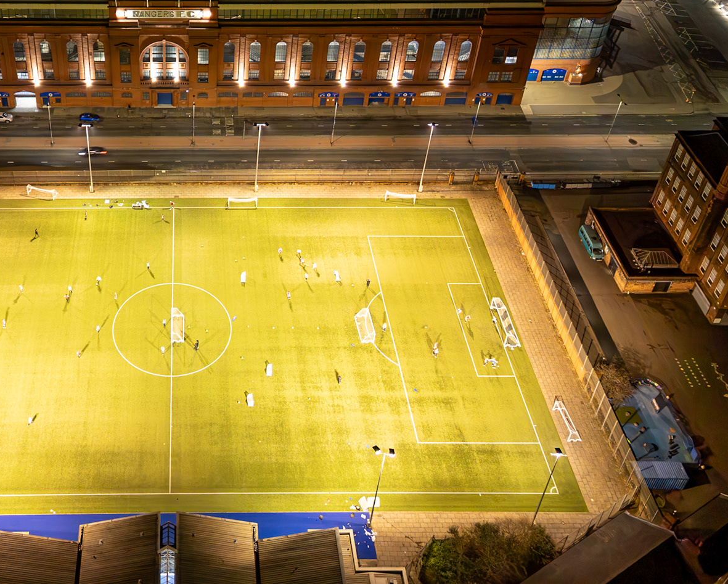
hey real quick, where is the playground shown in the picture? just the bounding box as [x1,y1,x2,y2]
[611,405,646,428]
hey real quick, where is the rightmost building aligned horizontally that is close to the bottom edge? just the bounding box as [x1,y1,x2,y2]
[528,508,697,584]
